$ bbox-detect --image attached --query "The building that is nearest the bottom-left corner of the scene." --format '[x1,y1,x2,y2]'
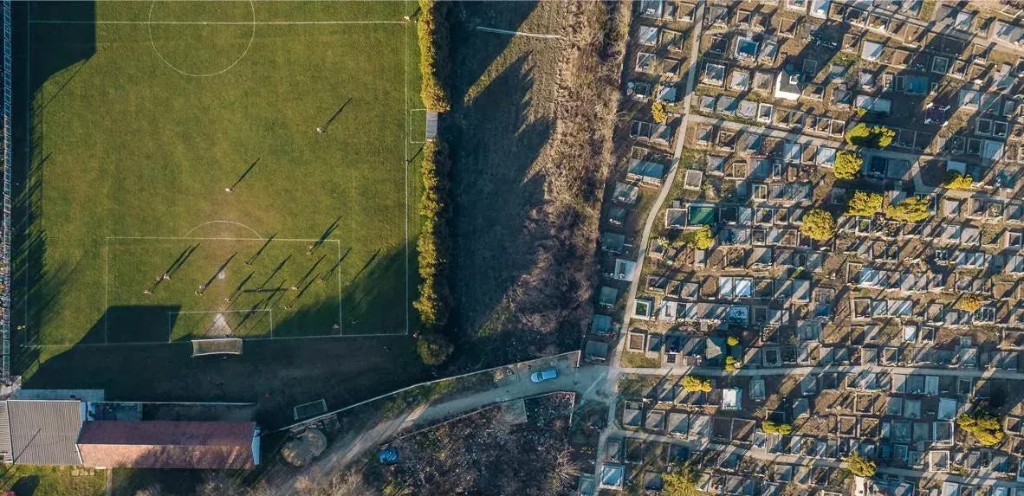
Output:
[0,400,97,465]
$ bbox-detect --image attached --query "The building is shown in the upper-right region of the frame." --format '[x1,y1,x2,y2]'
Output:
[776,64,809,99]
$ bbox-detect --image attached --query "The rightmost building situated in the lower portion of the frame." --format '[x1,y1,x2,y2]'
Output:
[74,421,262,469]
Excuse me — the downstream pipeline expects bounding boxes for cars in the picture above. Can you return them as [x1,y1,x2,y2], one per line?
[531,368,558,383]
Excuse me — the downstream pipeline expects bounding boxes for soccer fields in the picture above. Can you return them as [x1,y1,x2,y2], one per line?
[11,0,424,386]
